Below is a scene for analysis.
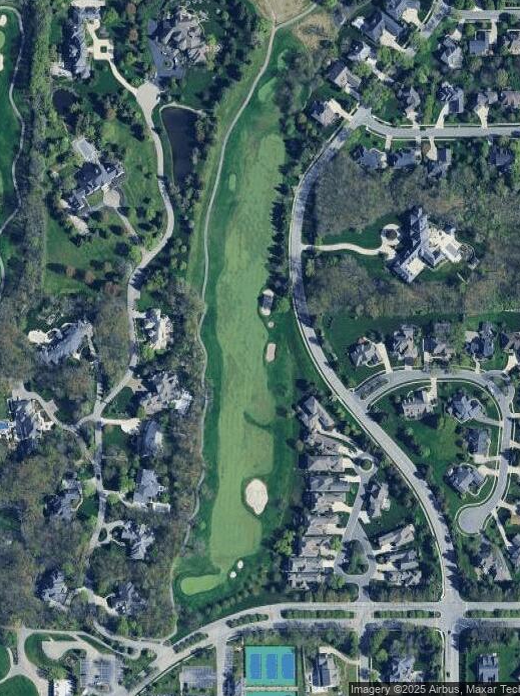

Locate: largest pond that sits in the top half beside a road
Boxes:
[161,106,198,177]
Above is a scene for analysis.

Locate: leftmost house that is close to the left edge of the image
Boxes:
[10,394,46,438]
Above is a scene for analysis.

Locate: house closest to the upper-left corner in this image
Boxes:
[69,6,102,79]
